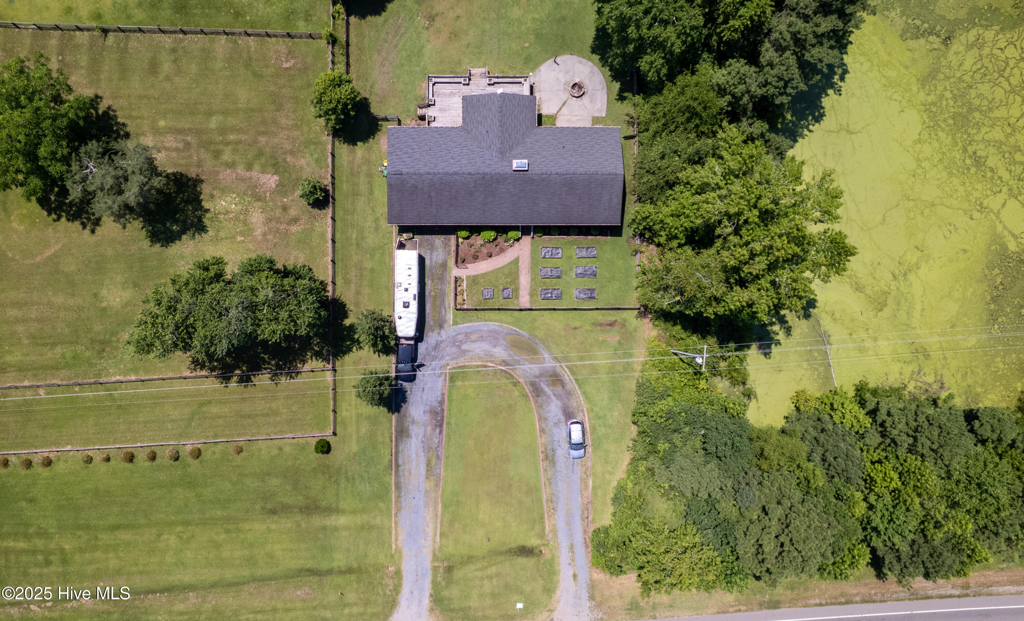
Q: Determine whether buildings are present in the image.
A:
Yes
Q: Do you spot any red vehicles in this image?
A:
No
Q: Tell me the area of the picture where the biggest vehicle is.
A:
center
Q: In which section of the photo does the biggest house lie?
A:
top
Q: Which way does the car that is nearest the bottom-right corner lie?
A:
from top to bottom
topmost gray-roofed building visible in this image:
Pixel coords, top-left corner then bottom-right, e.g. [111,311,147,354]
[384,92,623,226]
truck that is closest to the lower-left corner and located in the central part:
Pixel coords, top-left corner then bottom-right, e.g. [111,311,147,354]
[391,328,418,382]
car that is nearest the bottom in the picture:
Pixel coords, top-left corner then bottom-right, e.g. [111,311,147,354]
[566,418,586,460]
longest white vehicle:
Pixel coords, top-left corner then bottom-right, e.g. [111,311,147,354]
[394,239,422,336]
